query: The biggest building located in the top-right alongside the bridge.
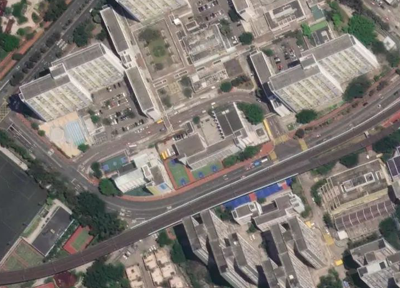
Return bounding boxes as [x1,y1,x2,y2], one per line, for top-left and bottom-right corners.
[269,34,374,112]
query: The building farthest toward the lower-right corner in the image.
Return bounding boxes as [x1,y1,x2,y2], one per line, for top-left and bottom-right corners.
[350,238,400,288]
